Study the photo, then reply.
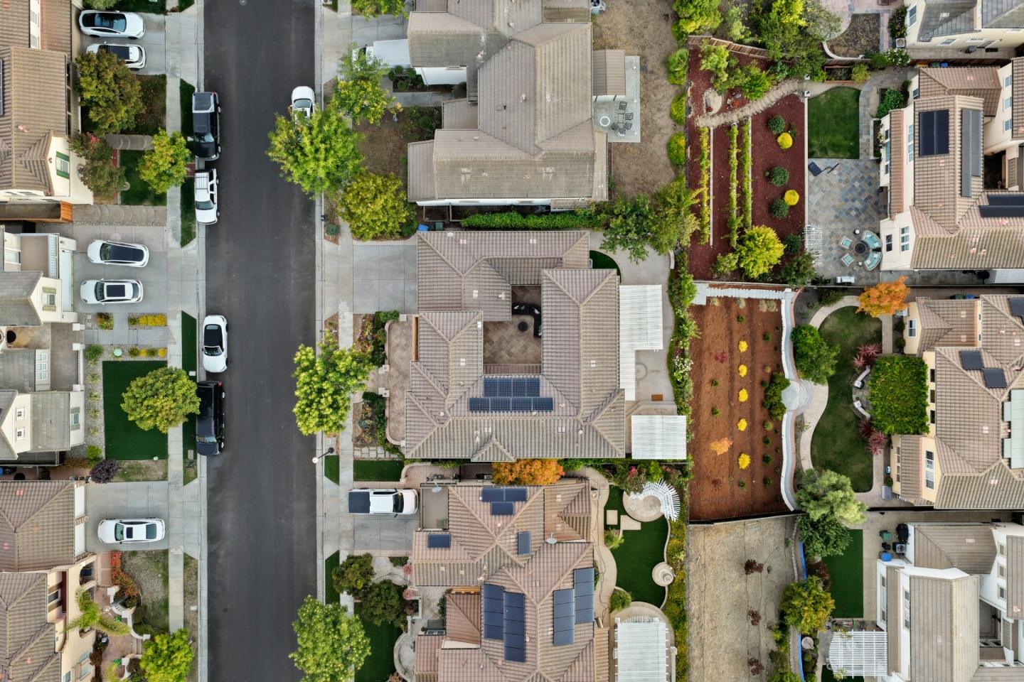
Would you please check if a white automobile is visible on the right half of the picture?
No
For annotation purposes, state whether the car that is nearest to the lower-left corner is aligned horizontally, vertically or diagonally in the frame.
horizontally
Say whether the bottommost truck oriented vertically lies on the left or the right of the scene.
left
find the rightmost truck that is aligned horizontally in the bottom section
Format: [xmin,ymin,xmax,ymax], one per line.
[348,487,417,519]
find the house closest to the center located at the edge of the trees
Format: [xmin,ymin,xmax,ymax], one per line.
[404,230,626,463]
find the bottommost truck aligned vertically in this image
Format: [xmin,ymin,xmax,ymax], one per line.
[192,382,227,455]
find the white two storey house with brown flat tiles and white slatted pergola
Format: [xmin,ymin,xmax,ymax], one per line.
[875,520,1024,682]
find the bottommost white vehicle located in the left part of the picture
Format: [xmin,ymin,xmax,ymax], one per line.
[101,517,165,546]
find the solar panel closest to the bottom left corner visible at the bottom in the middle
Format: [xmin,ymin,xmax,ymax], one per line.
[427,533,451,549]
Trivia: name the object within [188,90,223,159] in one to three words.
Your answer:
vehicle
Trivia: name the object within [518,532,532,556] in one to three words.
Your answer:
solar panel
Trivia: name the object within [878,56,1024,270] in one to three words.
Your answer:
house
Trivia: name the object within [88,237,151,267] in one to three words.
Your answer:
car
